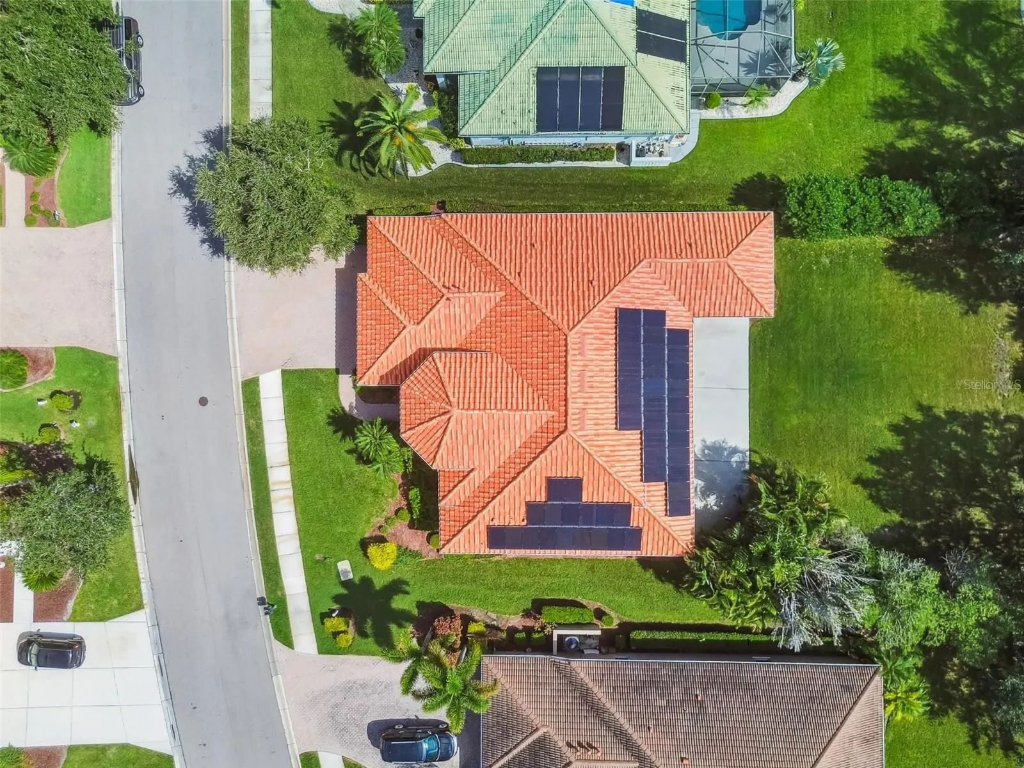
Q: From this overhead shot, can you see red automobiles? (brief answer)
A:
No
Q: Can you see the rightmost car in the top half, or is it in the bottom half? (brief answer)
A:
bottom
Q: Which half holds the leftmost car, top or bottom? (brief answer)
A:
bottom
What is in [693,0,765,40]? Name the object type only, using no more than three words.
swimming pool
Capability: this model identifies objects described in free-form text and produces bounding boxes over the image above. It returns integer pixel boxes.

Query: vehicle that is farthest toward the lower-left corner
[15,632,88,672]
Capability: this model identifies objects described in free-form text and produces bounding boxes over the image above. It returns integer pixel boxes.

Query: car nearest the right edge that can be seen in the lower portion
[378,723,460,768]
